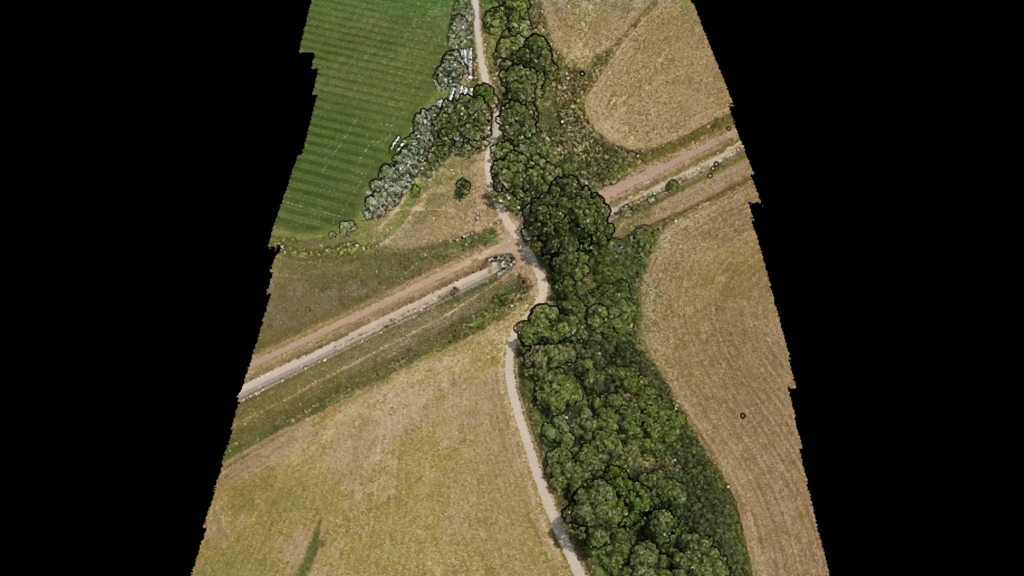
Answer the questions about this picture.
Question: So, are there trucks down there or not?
No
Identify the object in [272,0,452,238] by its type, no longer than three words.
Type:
sports field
